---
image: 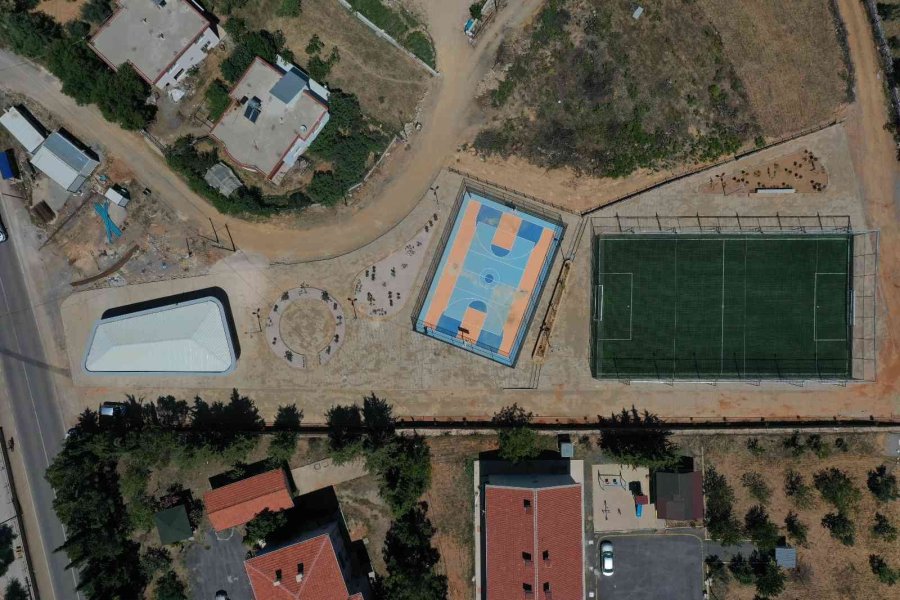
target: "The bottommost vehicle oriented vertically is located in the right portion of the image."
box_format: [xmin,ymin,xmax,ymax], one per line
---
[600,543,616,578]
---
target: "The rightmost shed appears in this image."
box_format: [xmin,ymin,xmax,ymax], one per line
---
[768,542,797,567]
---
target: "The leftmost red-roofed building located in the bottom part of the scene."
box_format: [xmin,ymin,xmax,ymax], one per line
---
[204,466,295,531]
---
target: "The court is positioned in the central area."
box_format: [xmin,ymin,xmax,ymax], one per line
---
[414,189,564,366]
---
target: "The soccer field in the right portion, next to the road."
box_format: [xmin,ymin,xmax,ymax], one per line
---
[590,228,854,384]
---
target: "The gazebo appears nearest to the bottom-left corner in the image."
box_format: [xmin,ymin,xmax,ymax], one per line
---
[155,501,199,544]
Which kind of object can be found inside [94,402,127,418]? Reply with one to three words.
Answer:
car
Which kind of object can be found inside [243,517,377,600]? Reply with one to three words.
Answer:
house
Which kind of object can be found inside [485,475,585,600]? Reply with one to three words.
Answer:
building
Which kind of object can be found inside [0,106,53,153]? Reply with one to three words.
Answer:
shed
